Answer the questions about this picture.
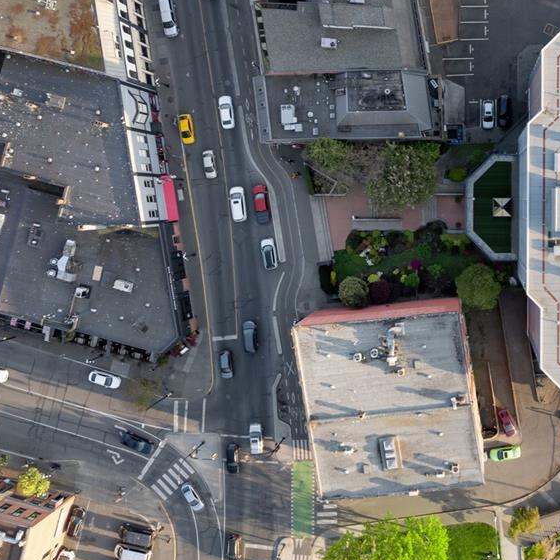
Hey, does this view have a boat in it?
No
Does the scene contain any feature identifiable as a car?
Yes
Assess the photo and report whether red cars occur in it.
Yes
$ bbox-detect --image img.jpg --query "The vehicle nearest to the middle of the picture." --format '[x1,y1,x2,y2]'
[260,237,280,271]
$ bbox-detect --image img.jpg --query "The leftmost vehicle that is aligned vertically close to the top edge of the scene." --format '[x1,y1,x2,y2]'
[158,0,181,40]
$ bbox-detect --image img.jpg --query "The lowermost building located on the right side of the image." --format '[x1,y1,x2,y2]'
[292,299,487,497]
